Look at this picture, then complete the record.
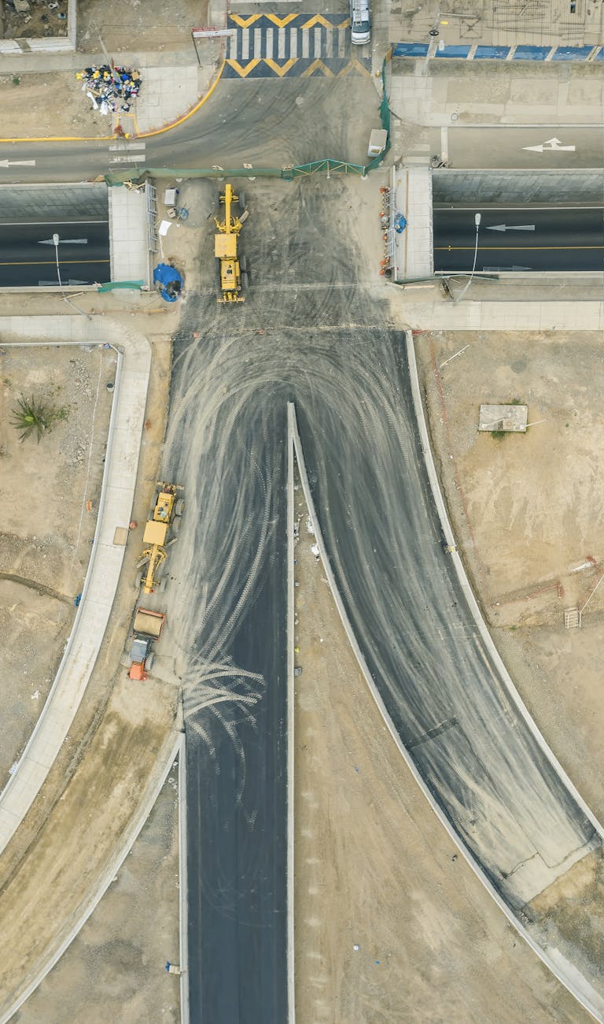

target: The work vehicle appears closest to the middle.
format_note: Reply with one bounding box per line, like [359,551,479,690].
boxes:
[133,479,185,595]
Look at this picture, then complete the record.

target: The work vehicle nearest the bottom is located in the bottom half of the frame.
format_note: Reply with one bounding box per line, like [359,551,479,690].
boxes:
[125,608,167,684]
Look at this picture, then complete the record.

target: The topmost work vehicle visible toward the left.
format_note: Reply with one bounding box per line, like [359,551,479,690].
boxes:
[212,189,248,309]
